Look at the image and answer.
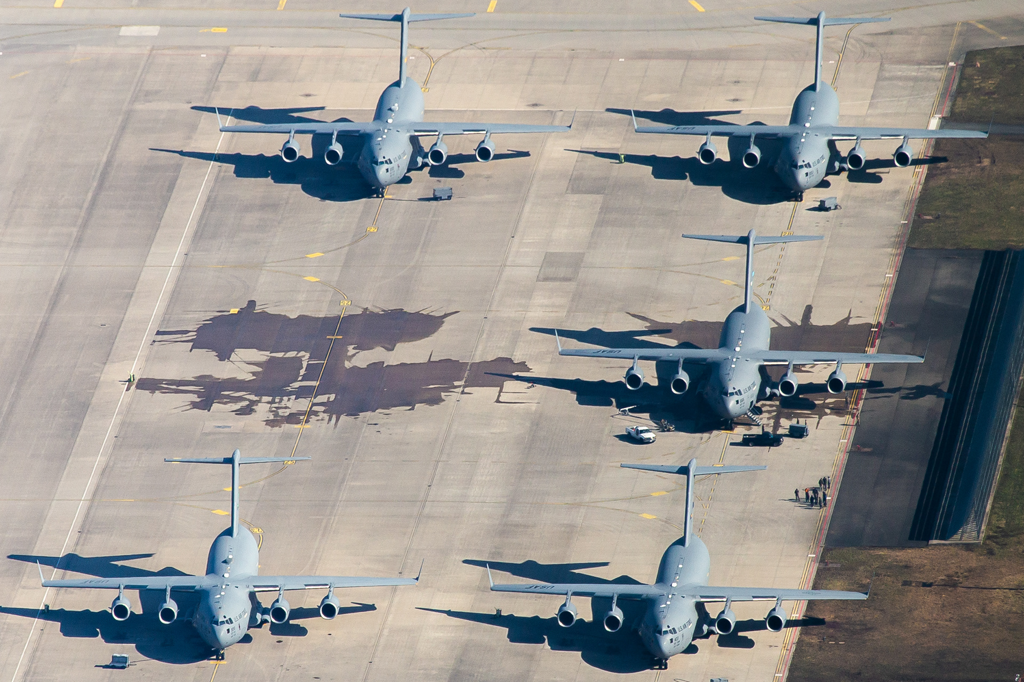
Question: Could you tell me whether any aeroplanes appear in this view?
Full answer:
Yes, the image includes an aeroplane.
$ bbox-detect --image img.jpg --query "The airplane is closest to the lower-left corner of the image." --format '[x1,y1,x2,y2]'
[36,448,424,662]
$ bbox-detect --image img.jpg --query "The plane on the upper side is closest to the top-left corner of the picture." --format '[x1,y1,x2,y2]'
[215,5,576,199]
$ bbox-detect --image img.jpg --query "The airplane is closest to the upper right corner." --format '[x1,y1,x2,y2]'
[631,9,994,203]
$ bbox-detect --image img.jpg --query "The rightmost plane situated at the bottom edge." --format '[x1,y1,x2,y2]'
[487,456,875,671]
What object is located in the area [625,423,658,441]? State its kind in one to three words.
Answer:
vehicle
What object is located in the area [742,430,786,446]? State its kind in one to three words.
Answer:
vehicle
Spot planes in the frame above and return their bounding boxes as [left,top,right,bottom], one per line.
[487,456,875,671]
[215,5,576,199]
[631,9,994,203]
[36,448,424,662]
[555,226,930,430]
